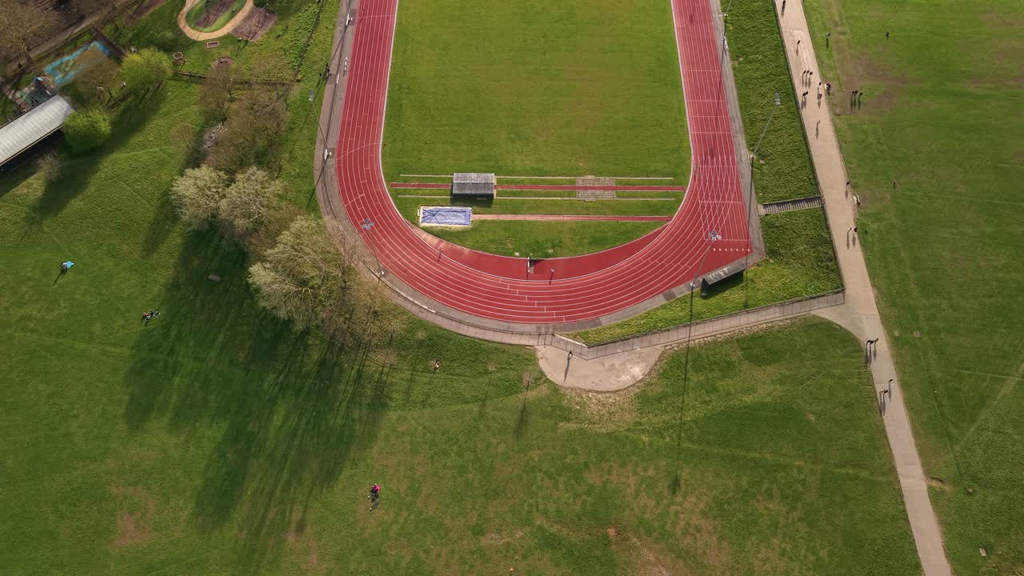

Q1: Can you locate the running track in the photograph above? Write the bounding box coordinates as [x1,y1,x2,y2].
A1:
[336,0,750,323]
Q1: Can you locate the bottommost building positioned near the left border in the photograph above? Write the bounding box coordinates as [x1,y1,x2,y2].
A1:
[0,94,74,178]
